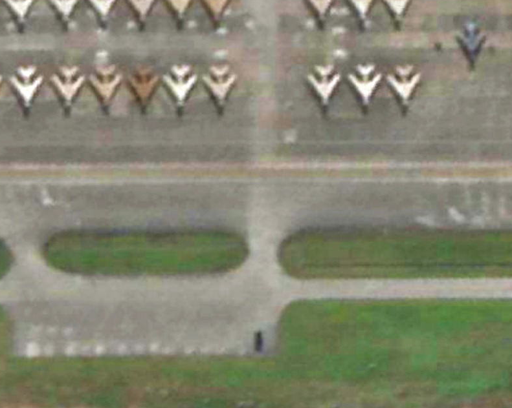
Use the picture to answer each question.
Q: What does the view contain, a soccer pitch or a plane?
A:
plane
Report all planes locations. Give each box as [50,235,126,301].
[127,66,161,110]
[52,0,78,25]
[52,66,85,110]
[130,0,154,25]
[309,64,341,109]
[164,65,197,109]
[389,65,421,109]
[89,65,122,109]
[90,0,114,24]
[204,64,237,109]
[310,0,333,24]
[6,0,32,25]
[168,0,192,24]
[10,66,44,110]
[205,0,229,24]
[387,0,410,24]
[350,0,372,23]
[349,65,381,109]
